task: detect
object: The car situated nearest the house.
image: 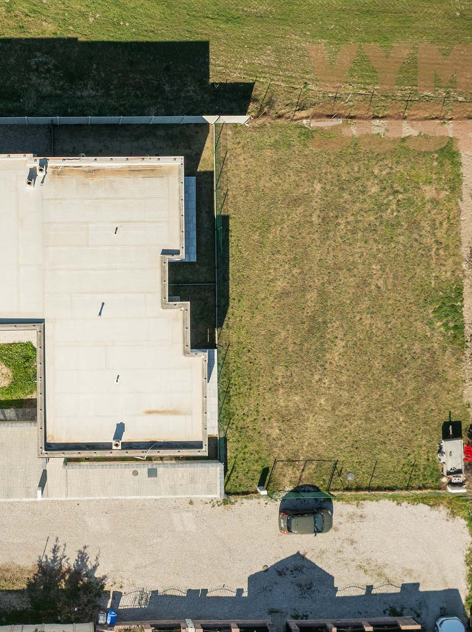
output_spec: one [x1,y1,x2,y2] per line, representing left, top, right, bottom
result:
[277,506,333,538]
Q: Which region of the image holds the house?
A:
left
